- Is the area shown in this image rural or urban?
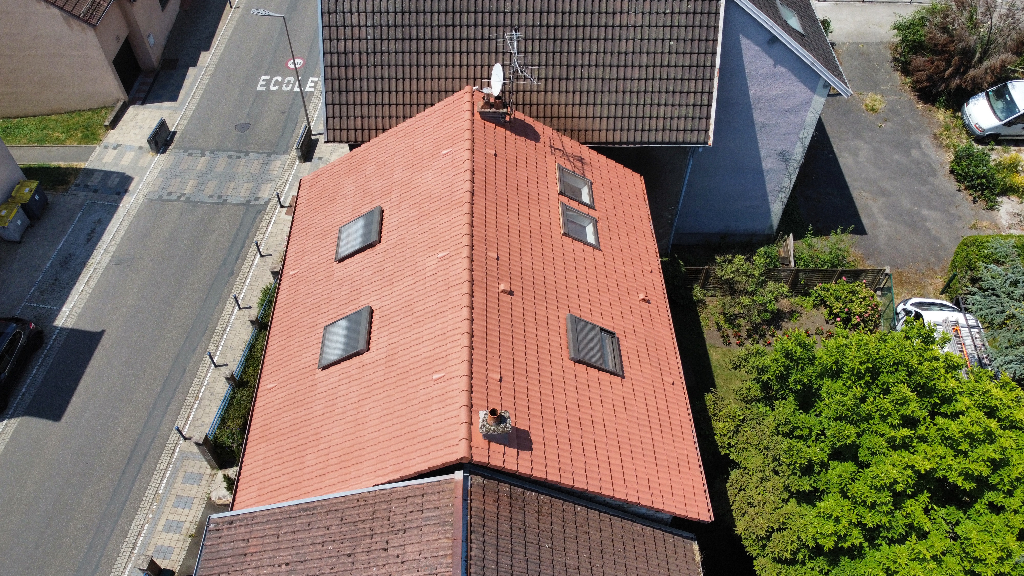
urban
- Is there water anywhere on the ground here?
No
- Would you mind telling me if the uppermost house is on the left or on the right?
left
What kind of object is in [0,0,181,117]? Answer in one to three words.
house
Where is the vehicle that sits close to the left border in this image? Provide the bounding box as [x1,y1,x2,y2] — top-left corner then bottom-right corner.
[0,319,44,423]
